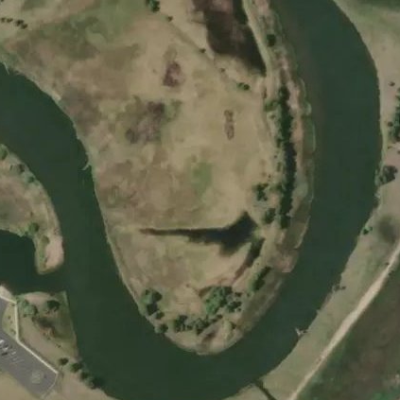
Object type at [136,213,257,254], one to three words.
pond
